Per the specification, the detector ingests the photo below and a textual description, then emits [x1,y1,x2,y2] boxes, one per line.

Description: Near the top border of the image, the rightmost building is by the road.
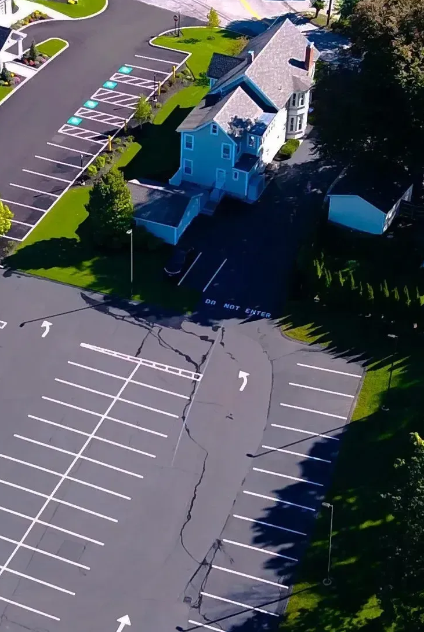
[174,17,321,197]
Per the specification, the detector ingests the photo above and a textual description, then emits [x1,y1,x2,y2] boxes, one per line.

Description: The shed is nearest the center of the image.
[135,184,217,245]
